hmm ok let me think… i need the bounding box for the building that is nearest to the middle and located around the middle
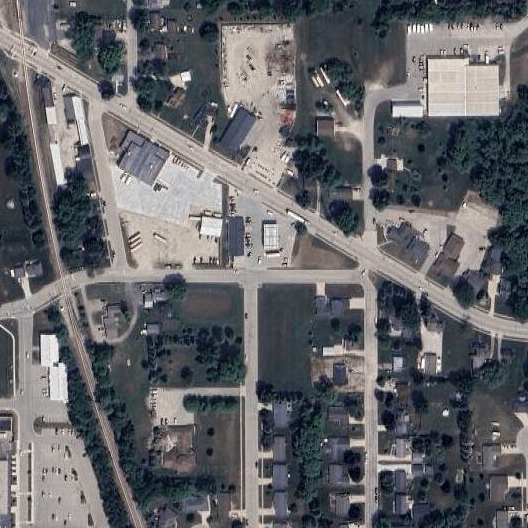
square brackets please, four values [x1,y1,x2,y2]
[227,215,245,256]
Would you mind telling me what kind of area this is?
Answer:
residential area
